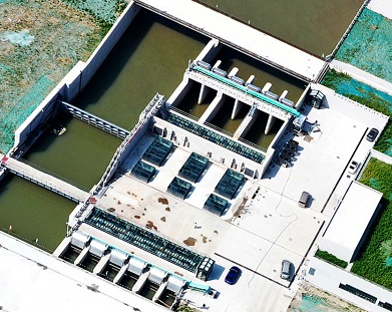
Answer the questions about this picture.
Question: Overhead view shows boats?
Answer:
No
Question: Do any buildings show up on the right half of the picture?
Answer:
Yes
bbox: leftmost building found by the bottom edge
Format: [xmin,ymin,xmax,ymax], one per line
[66,222,196,302]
